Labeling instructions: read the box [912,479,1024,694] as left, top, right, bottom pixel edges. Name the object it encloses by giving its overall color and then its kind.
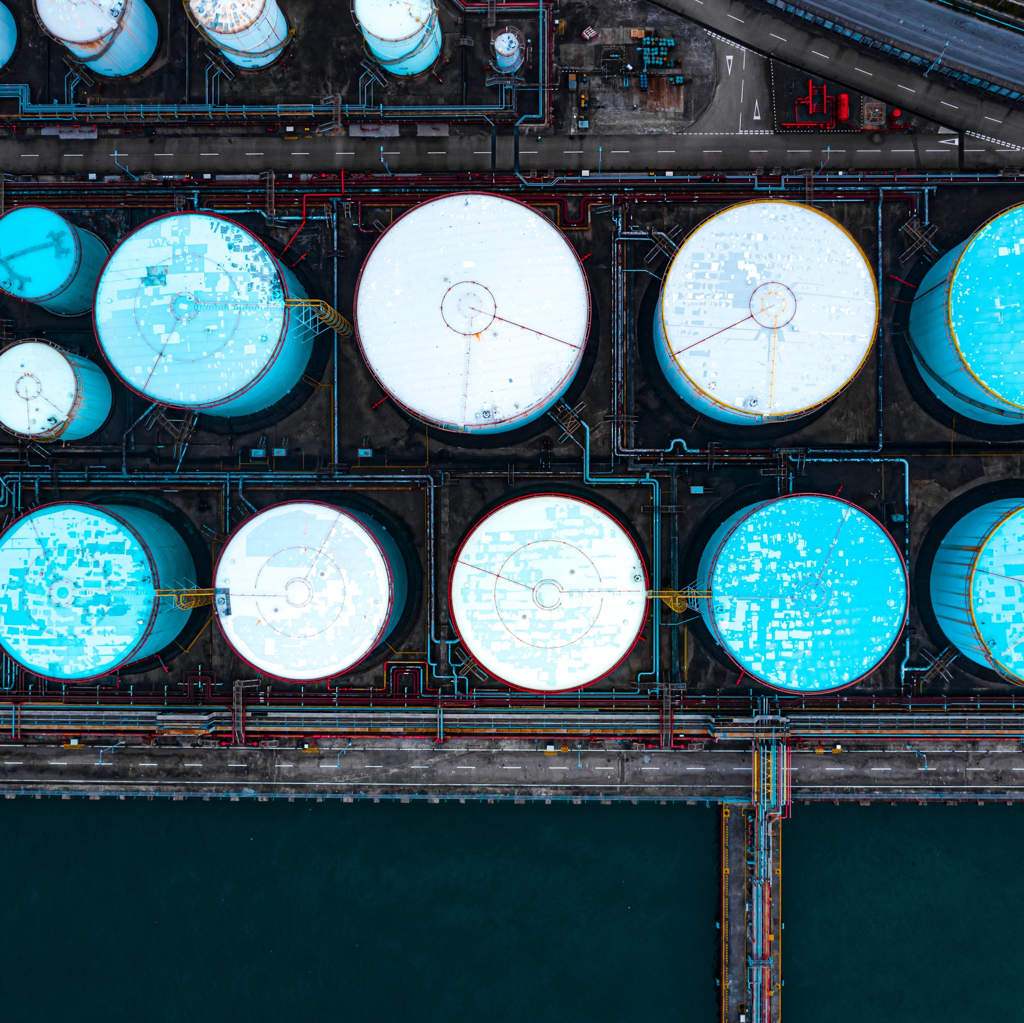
blue storage tank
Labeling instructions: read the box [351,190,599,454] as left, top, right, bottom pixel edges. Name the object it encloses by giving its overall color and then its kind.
white storage tank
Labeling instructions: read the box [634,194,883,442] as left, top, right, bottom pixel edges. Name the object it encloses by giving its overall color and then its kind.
white storage tank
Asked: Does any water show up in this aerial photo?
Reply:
Yes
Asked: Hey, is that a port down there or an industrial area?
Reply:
industrial area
